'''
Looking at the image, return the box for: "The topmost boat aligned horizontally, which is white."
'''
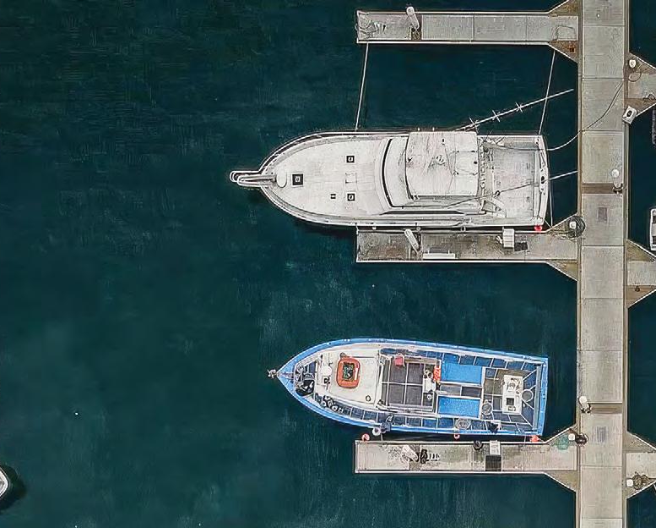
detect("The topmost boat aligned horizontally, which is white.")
[230,88,574,229]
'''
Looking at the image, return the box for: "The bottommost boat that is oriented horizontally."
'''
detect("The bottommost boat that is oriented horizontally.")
[267,337,550,435]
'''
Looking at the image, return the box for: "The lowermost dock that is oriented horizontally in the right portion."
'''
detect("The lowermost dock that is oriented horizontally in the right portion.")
[355,425,576,492]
